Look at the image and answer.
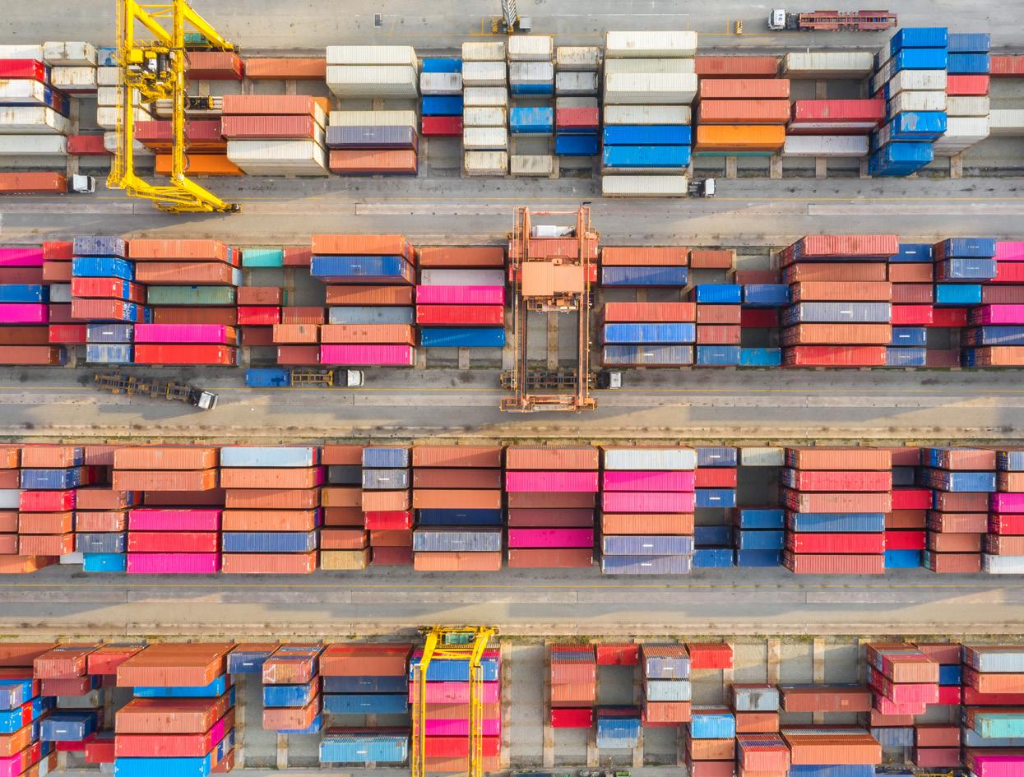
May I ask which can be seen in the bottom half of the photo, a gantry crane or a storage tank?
gantry crane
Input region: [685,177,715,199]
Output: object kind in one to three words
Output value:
truck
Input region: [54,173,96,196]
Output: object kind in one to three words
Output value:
truck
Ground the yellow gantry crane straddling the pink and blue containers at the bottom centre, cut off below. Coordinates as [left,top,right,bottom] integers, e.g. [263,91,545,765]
[412,625,501,777]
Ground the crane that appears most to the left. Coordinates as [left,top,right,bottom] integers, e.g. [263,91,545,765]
[105,0,244,214]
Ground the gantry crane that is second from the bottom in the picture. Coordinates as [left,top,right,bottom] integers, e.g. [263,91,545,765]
[498,199,596,414]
